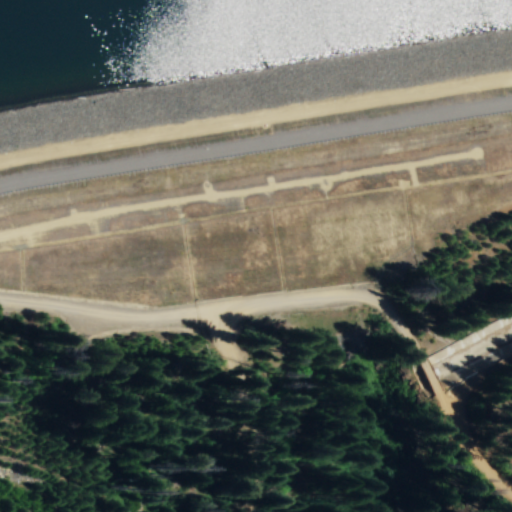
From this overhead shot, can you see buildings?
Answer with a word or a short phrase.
No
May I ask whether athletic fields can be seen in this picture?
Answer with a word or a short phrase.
No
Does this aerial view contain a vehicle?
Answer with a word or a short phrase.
No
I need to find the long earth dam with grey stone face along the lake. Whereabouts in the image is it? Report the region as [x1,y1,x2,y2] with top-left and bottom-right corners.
[0,28,512,305]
